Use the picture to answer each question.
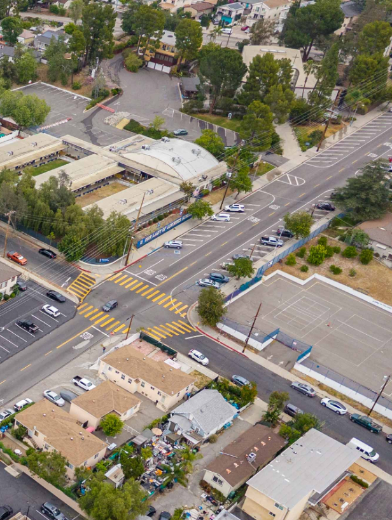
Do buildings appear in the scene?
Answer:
Yes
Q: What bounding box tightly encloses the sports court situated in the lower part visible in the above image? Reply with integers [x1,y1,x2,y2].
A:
[227,274,392,402]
